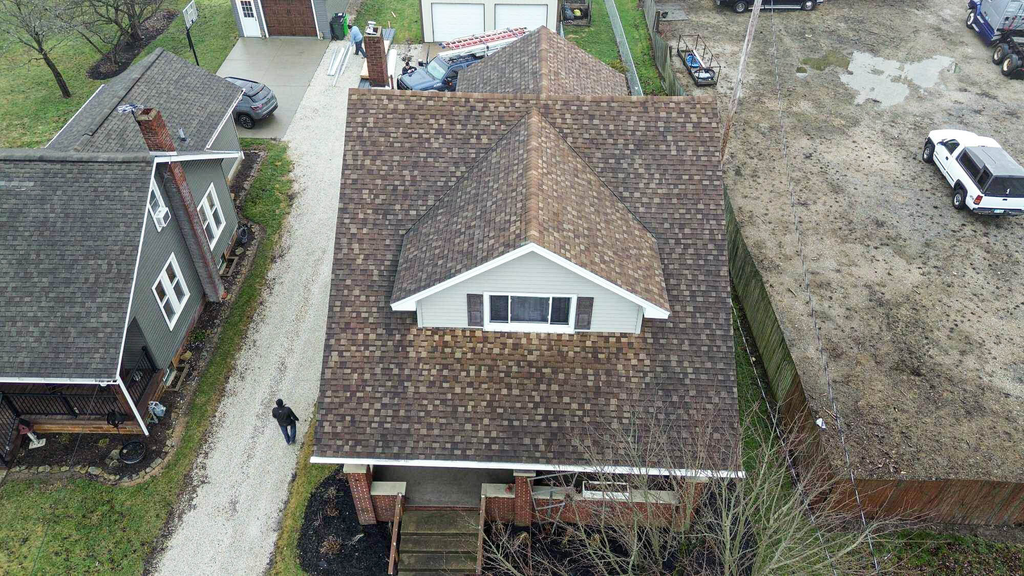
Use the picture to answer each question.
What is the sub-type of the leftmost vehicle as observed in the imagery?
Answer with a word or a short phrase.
automobile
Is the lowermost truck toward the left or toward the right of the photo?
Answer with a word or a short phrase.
right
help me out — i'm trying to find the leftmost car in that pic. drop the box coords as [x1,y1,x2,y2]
[228,76,284,129]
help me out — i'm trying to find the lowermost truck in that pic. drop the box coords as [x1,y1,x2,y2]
[922,128,1024,221]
